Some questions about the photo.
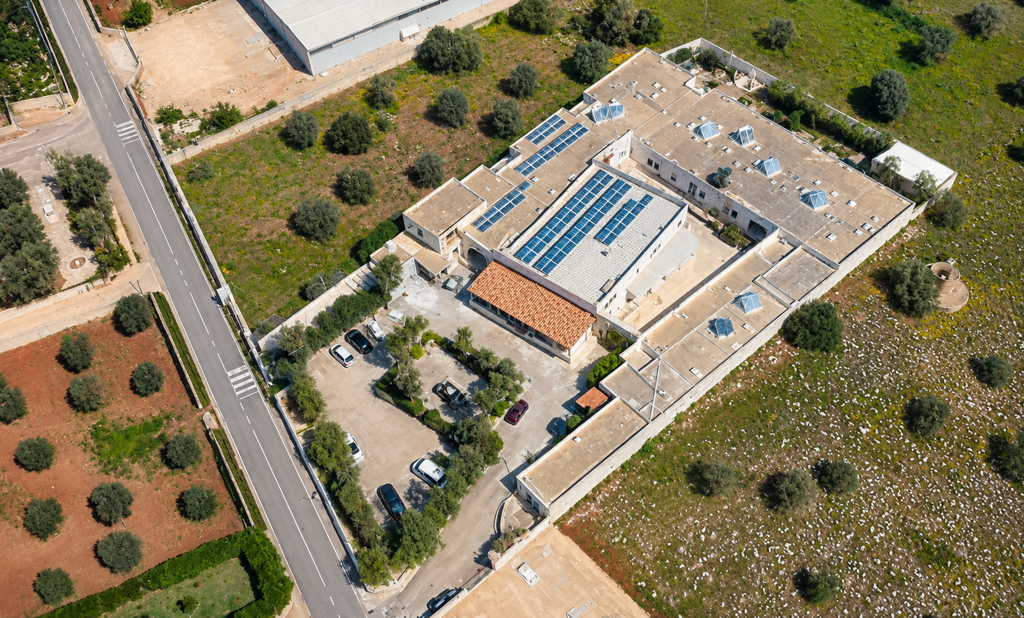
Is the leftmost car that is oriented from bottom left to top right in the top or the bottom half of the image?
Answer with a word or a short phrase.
bottom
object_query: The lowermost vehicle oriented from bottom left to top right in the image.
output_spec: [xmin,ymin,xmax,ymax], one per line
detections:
[426,581,465,611]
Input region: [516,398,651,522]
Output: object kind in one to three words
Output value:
building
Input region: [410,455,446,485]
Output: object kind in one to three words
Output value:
car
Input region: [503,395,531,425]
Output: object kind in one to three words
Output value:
car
